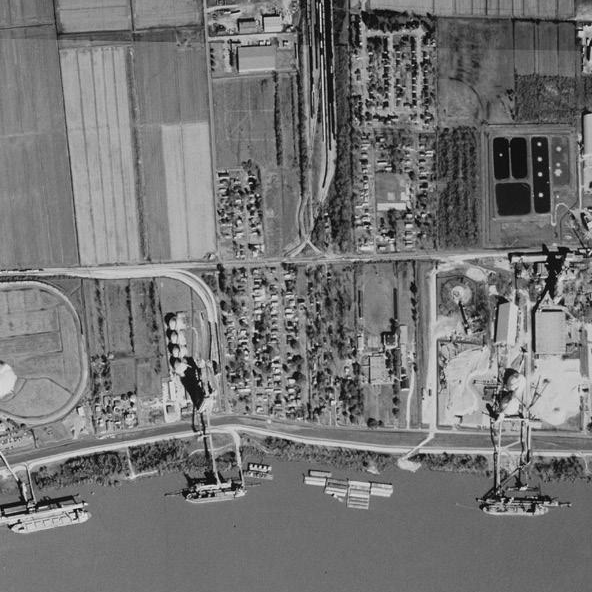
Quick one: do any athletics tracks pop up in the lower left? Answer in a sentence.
No, there's no athletics track to be seen in the lower left.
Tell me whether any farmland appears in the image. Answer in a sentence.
Yes, there's farmland in this view.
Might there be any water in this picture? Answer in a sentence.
Yes, water can be seen from above here.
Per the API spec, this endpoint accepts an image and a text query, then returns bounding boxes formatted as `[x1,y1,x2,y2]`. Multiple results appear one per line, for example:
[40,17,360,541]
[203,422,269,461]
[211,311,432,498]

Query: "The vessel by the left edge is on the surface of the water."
[12,506,92,531]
